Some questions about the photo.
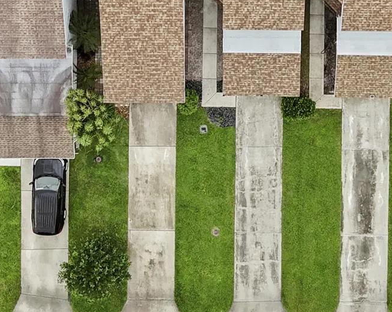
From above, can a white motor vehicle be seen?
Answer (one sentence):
No, no white motor vehicle is visible in the scene.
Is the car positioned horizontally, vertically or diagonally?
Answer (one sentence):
The car runs vertically in the image.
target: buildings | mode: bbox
[318,0,392,99]
[0,0,76,159]
[99,0,186,104]
[220,0,305,98]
